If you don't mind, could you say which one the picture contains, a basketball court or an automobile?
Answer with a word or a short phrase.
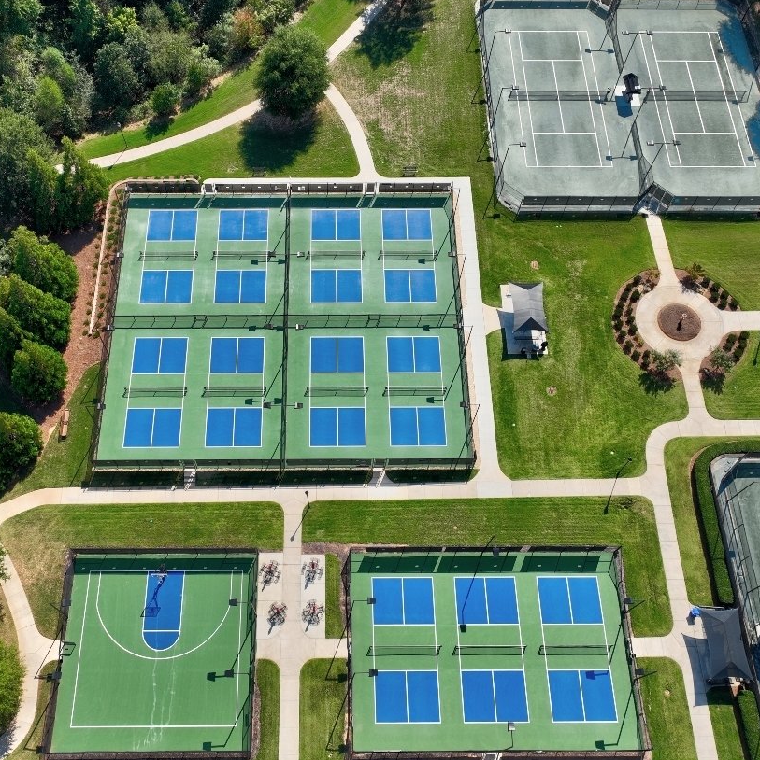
basketball court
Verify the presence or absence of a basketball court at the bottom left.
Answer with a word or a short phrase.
Yes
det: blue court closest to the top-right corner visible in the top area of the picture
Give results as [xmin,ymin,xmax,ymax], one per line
[381,208,438,302]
